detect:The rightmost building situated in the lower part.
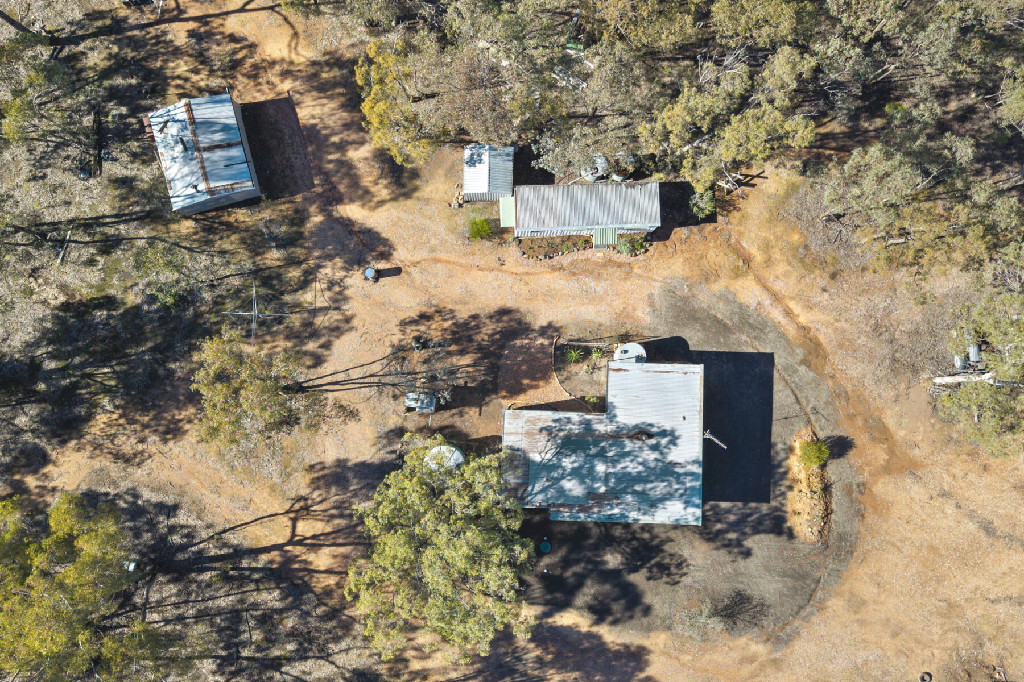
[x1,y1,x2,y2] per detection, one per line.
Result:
[500,362,706,526]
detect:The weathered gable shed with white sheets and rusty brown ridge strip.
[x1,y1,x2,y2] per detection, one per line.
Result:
[149,94,262,215]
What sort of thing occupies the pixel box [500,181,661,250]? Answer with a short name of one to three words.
building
